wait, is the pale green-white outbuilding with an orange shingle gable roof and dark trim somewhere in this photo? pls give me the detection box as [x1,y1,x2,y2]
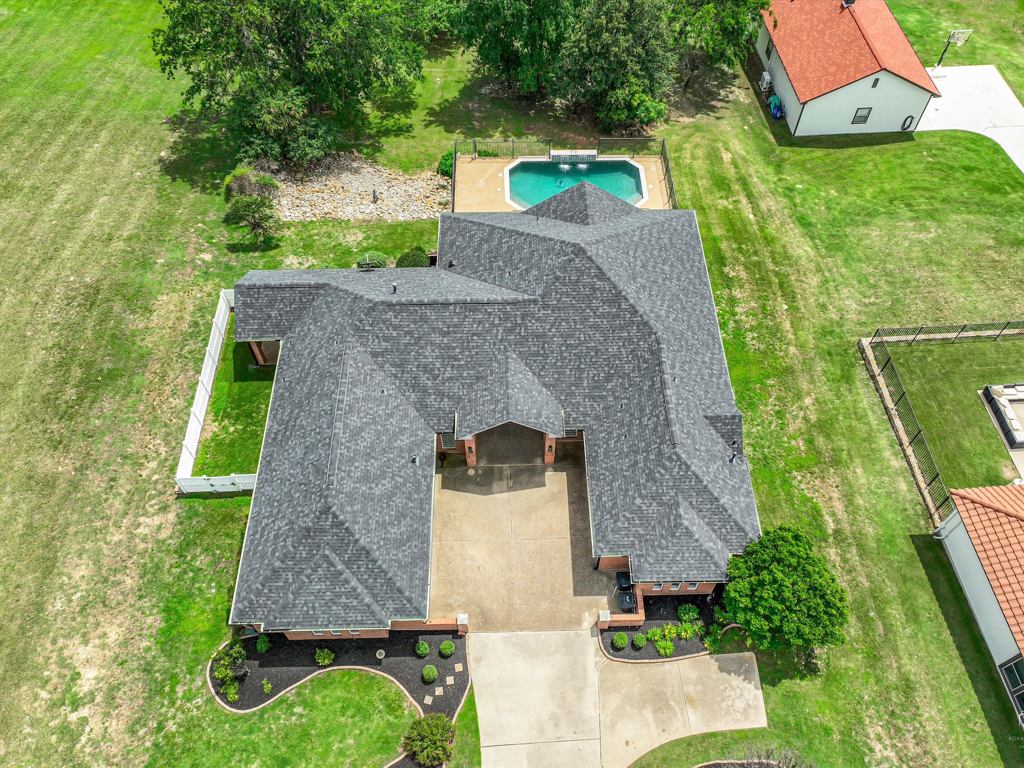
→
[757,0,939,137]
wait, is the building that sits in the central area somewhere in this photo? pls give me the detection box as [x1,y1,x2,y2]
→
[229,180,764,641]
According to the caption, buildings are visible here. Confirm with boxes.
[757,0,939,137]
[935,480,1024,729]
[229,180,764,641]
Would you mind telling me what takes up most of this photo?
grass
